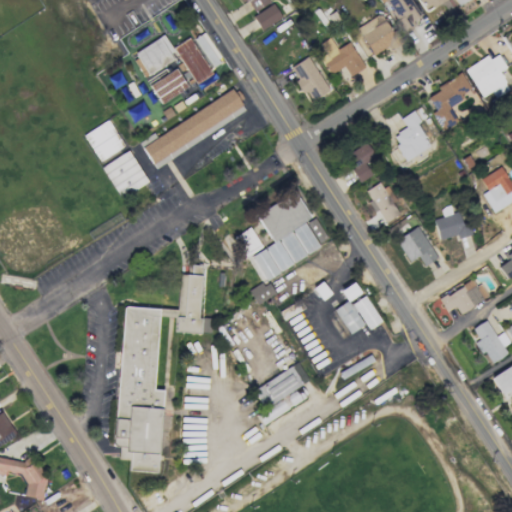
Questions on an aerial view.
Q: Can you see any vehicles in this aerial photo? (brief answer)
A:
Yes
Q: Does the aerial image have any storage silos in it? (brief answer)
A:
No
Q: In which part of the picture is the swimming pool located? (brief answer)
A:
right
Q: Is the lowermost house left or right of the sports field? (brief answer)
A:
to its left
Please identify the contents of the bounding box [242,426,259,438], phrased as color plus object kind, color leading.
white vehicle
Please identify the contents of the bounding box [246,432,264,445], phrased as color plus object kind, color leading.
white vehicle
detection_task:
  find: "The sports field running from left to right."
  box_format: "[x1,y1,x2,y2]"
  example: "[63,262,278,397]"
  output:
[216,404,464,512]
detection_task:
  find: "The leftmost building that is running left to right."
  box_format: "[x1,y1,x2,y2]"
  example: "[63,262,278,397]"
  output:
[2,274,38,290]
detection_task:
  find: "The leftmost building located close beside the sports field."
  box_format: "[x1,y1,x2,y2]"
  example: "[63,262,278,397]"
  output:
[116,264,213,474]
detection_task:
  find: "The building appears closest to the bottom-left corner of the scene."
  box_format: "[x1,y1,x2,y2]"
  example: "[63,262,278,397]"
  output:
[0,460,48,500]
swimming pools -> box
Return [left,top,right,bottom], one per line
[475,272,498,296]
